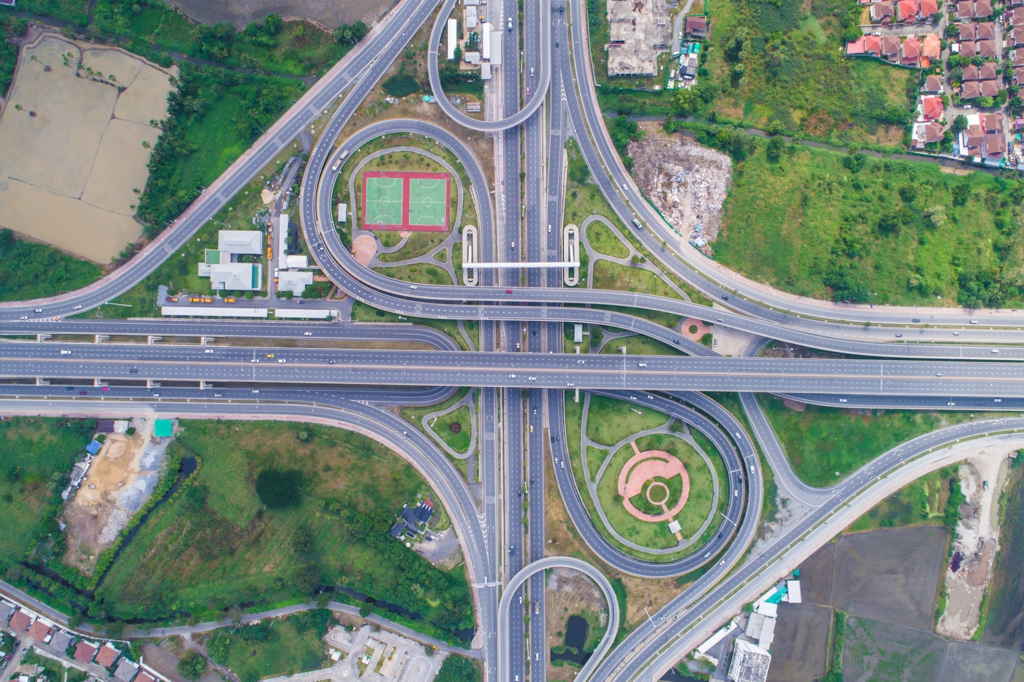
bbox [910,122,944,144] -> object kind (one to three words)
house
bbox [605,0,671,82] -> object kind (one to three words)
building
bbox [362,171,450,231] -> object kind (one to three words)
sports court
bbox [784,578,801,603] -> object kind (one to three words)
shed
